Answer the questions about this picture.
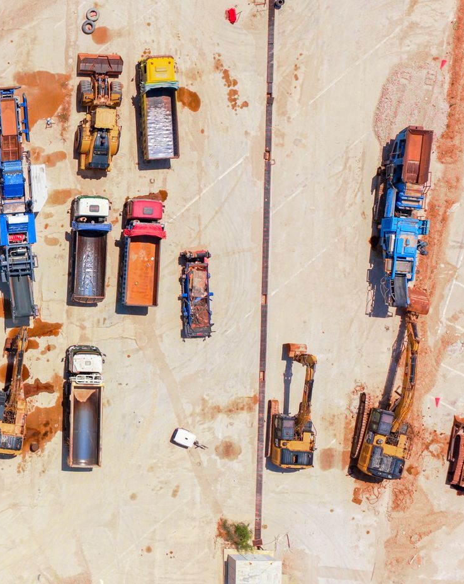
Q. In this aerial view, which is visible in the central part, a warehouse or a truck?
truck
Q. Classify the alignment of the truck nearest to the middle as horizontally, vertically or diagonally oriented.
vertically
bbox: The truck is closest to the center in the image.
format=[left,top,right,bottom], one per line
[179,249,215,342]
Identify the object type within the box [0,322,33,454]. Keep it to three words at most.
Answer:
work vehicle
